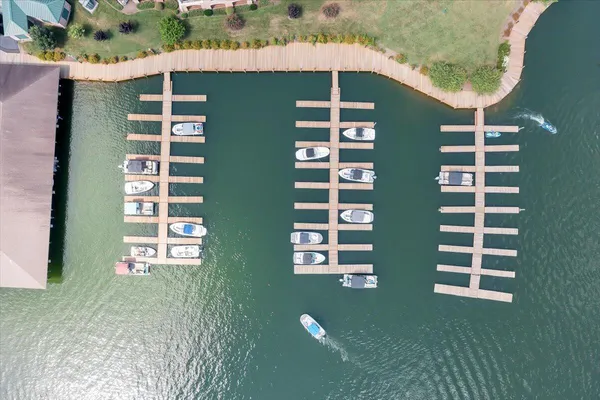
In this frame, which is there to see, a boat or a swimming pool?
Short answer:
boat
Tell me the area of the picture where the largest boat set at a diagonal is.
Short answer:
bottom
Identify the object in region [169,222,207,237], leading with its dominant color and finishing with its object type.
white boat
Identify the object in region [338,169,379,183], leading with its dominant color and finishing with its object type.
white boat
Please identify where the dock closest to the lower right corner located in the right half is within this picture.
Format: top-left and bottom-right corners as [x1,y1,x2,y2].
[434,108,519,302]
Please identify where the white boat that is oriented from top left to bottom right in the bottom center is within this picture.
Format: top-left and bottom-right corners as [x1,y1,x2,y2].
[302,314,326,342]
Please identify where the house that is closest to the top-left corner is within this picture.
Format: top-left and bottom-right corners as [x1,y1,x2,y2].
[3,0,77,42]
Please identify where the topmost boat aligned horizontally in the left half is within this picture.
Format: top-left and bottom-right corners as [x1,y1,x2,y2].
[172,122,204,135]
